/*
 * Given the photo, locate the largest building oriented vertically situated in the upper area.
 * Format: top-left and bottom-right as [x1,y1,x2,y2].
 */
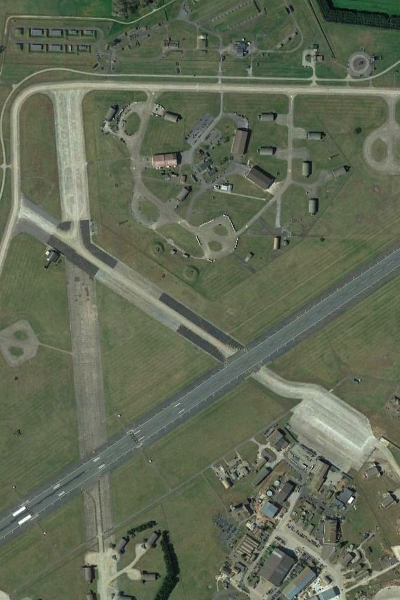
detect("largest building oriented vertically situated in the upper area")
[231,127,248,155]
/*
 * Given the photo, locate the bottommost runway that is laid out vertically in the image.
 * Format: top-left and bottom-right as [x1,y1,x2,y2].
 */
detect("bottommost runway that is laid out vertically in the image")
[66,258,115,554]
